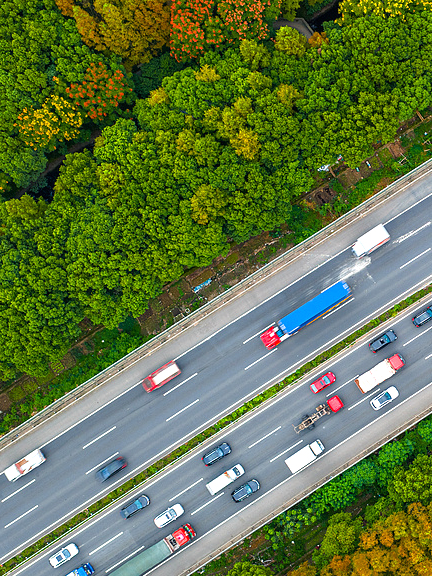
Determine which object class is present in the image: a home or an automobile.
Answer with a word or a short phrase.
automobile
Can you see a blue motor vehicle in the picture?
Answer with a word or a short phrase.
Yes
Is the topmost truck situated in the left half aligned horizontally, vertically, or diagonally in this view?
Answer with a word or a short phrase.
diagonally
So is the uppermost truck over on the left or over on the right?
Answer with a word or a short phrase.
right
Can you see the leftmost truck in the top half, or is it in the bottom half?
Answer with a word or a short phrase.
bottom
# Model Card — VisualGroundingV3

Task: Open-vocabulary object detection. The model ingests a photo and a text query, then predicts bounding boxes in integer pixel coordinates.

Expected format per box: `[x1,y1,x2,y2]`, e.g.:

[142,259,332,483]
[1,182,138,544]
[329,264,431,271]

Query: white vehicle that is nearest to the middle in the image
[142,360,183,393]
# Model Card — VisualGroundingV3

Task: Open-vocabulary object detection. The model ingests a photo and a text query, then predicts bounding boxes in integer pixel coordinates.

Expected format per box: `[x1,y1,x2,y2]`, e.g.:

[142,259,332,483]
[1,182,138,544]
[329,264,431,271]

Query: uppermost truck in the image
[350,226,390,260]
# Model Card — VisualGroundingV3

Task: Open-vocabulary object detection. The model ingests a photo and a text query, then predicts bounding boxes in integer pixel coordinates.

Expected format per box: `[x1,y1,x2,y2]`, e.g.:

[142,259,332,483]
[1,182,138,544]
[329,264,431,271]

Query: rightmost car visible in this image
[411,305,432,328]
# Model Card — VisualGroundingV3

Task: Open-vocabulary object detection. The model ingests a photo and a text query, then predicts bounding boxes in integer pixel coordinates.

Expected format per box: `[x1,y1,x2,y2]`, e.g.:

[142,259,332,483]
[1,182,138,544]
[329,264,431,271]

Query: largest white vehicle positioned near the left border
[6,447,49,482]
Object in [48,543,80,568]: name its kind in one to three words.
car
